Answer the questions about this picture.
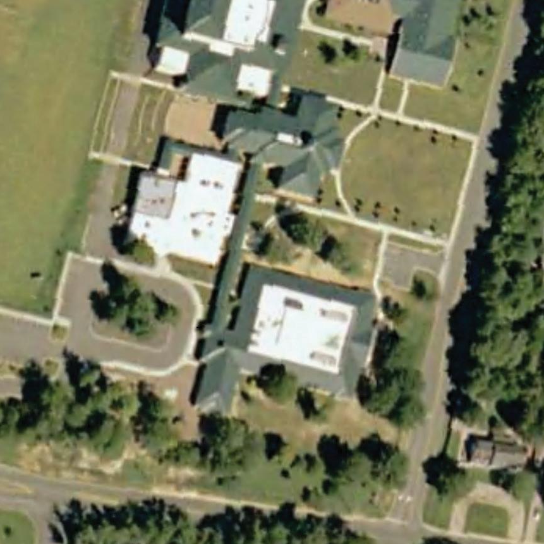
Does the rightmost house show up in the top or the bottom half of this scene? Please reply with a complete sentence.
It is in the bottom half that the rightmost house appears.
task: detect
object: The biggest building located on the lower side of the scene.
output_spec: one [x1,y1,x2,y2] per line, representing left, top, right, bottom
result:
[200,262,375,398]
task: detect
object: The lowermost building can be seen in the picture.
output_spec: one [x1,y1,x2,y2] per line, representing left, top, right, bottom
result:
[470,429,527,467]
